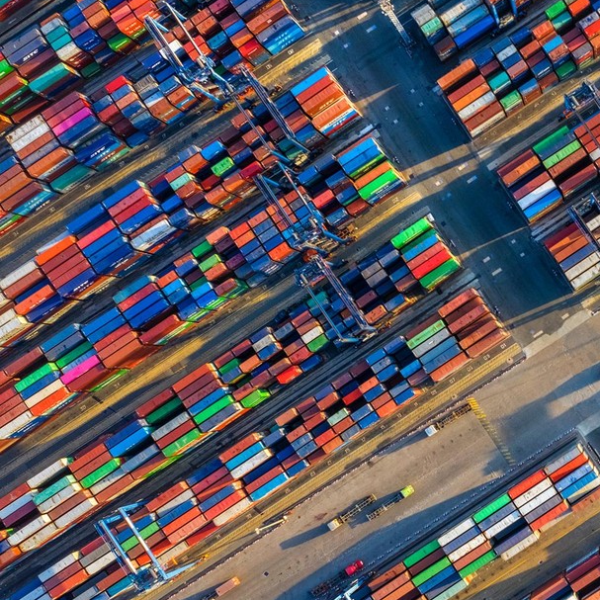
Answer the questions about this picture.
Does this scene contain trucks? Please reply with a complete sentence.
Yes, there's a truck here.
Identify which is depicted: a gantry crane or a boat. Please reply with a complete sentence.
Of the two, only a gantry crane appears.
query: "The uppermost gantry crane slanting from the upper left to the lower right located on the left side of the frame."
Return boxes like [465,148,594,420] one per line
[139,0,242,116]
